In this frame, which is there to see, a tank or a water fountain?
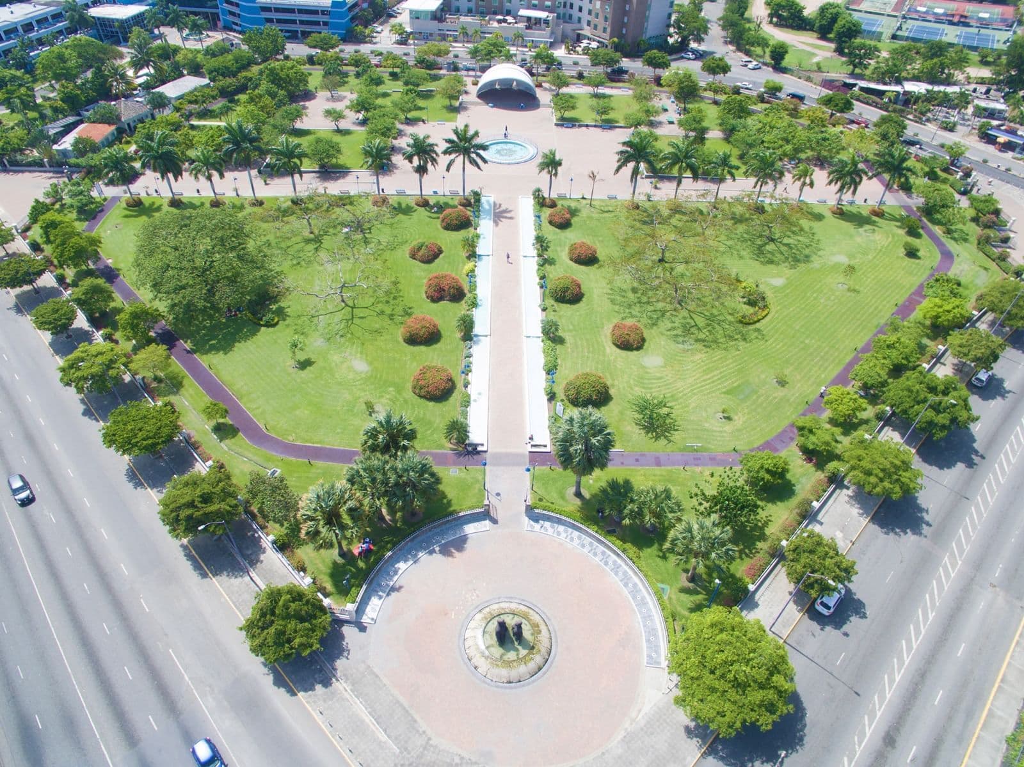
water fountain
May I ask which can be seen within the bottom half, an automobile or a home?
automobile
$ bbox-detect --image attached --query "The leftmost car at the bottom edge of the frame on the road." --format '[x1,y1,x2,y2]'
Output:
[187,730,230,767]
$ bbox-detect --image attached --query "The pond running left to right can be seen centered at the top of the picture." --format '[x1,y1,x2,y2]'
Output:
[475,135,542,165]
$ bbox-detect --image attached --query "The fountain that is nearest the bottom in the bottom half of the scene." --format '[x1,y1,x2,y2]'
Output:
[457,593,558,689]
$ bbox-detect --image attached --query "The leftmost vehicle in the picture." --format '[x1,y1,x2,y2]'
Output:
[2,467,37,508]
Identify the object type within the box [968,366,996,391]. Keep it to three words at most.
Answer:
car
